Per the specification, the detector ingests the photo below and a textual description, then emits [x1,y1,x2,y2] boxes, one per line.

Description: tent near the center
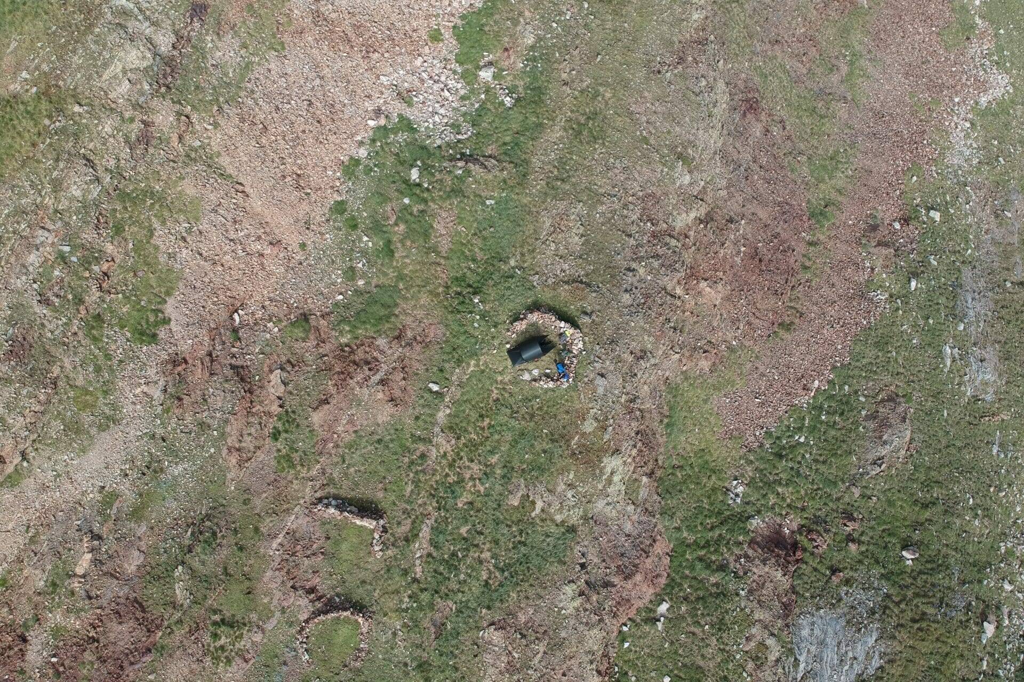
[507,335,555,367]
